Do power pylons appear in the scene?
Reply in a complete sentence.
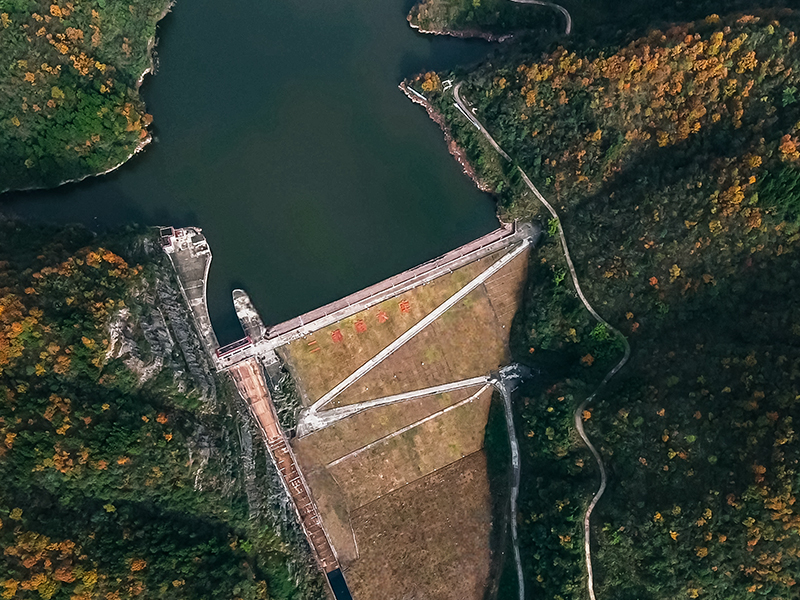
No, there's no power pylon here.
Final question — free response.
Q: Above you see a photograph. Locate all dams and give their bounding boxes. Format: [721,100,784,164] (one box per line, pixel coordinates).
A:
[266,213,533,600]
